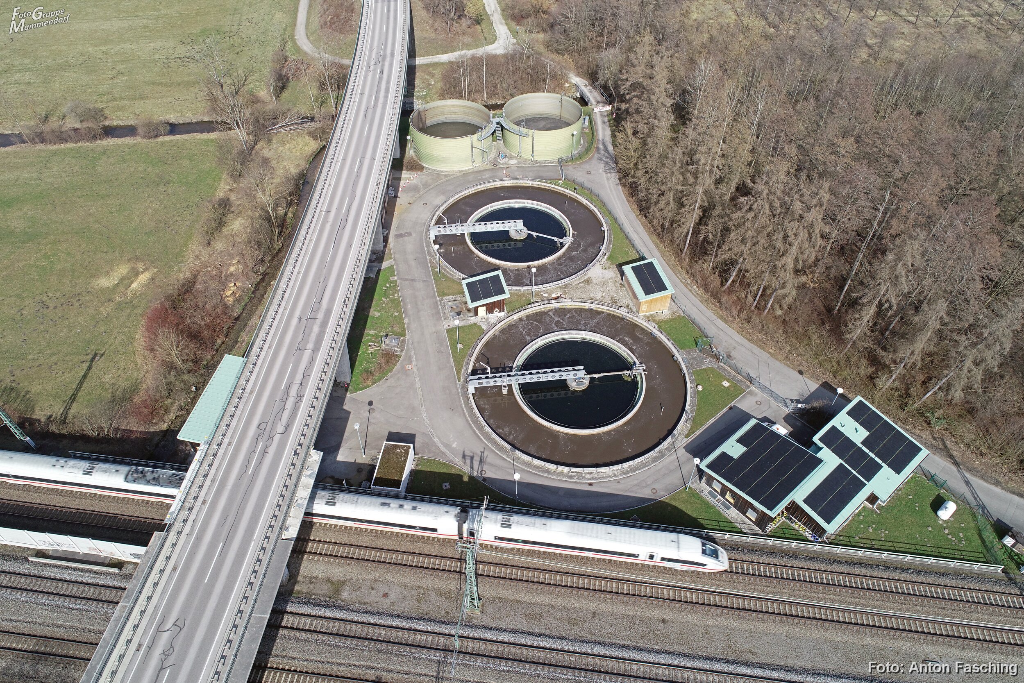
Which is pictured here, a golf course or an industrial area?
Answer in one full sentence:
What you see here is an industrial area.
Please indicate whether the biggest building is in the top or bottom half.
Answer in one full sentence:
The bottom half of the photo is where the biggest building is.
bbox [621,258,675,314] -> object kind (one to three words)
shed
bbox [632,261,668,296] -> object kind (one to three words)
solar array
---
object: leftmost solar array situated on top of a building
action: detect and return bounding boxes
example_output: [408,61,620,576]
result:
[466,274,505,303]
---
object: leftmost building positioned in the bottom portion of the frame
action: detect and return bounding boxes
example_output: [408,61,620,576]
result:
[371,442,414,498]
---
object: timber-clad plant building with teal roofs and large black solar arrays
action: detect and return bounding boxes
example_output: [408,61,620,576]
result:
[691,395,930,546]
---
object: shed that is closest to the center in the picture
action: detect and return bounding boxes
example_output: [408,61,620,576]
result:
[462,270,510,317]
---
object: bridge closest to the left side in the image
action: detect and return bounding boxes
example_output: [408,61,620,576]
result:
[80,0,410,683]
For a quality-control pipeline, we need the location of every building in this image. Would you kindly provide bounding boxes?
[621,258,675,314]
[691,395,930,546]
[462,270,510,317]
[371,442,414,498]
